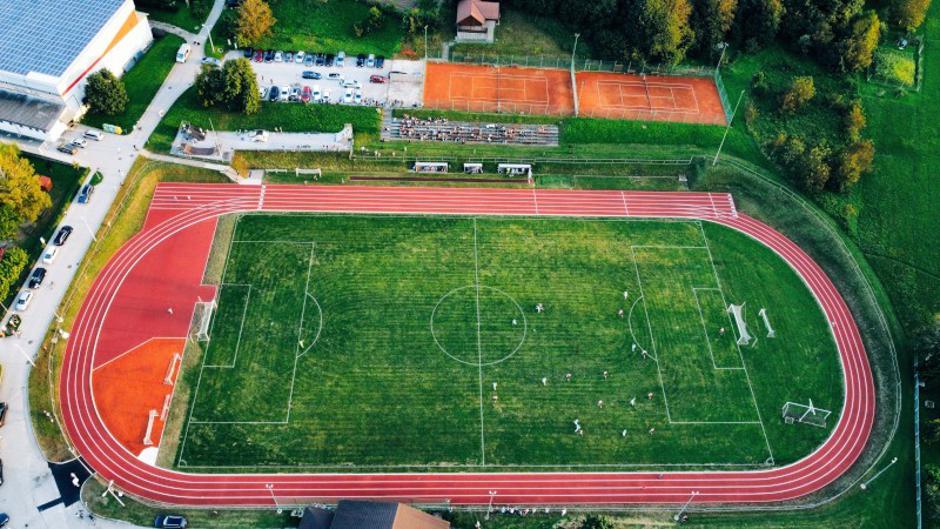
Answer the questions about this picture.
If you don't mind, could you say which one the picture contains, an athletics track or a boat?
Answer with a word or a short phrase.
athletics track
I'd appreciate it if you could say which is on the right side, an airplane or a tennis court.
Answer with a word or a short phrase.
tennis court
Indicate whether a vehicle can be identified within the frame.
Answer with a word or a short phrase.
Yes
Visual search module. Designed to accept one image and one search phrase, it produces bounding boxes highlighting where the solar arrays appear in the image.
[0,0,124,81]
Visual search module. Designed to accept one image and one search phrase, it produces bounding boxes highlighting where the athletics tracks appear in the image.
[60,182,876,506]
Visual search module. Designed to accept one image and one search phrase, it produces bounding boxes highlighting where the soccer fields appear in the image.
[154,210,845,473]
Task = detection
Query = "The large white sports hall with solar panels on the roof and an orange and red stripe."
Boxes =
[0,0,155,155]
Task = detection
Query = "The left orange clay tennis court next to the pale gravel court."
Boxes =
[424,63,576,115]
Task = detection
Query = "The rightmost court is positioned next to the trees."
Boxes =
[576,71,727,124]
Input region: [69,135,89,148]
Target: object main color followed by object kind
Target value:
white vehicle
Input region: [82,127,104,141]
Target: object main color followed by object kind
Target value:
white vehicle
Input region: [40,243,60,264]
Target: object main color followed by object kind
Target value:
white car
